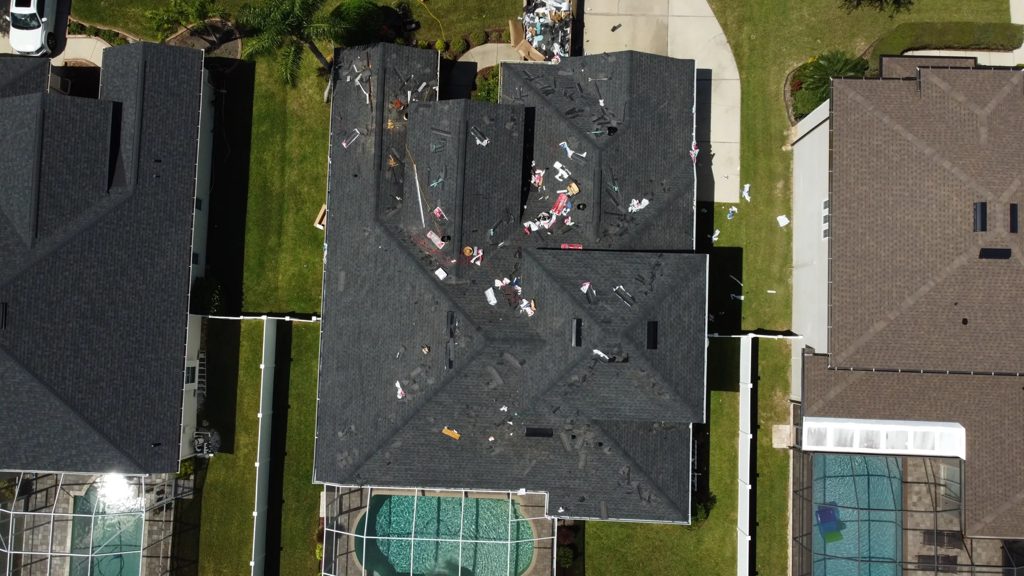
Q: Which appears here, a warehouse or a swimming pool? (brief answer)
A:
swimming pool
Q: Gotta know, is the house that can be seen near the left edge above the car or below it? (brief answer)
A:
below it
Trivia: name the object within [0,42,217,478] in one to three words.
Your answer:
house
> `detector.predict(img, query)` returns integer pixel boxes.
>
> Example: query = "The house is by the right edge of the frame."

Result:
[792,55,1024,538]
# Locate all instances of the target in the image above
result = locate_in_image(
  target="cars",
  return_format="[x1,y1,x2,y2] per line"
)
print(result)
[7,0,59,57]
